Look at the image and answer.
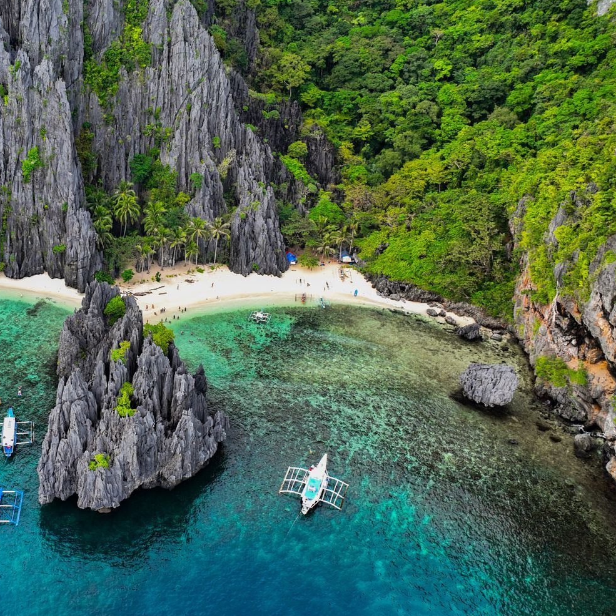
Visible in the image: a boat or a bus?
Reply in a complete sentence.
The one in the frame is a boat.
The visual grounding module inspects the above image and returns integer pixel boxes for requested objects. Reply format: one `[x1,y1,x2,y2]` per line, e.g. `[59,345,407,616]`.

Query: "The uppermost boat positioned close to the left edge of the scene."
[0,406,34,460]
